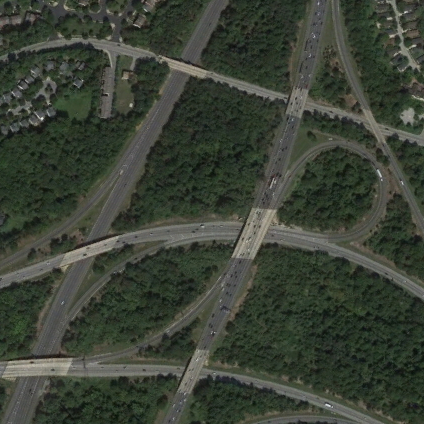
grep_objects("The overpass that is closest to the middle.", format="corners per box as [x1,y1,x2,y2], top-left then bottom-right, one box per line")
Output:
[231,207,276,258]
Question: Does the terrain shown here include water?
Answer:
No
